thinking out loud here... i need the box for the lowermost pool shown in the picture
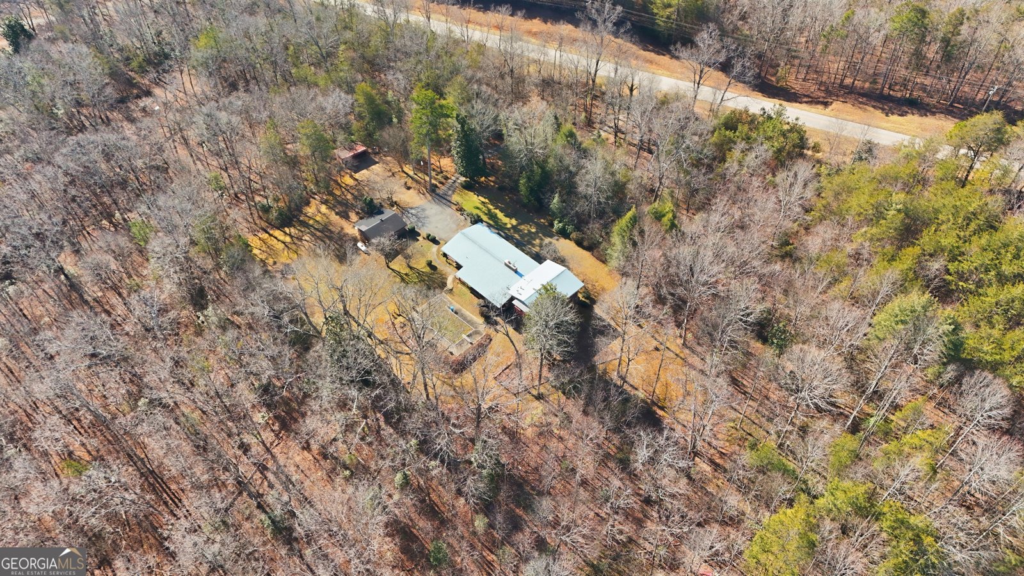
[411,292,486,355]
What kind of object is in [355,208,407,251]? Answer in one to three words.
building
